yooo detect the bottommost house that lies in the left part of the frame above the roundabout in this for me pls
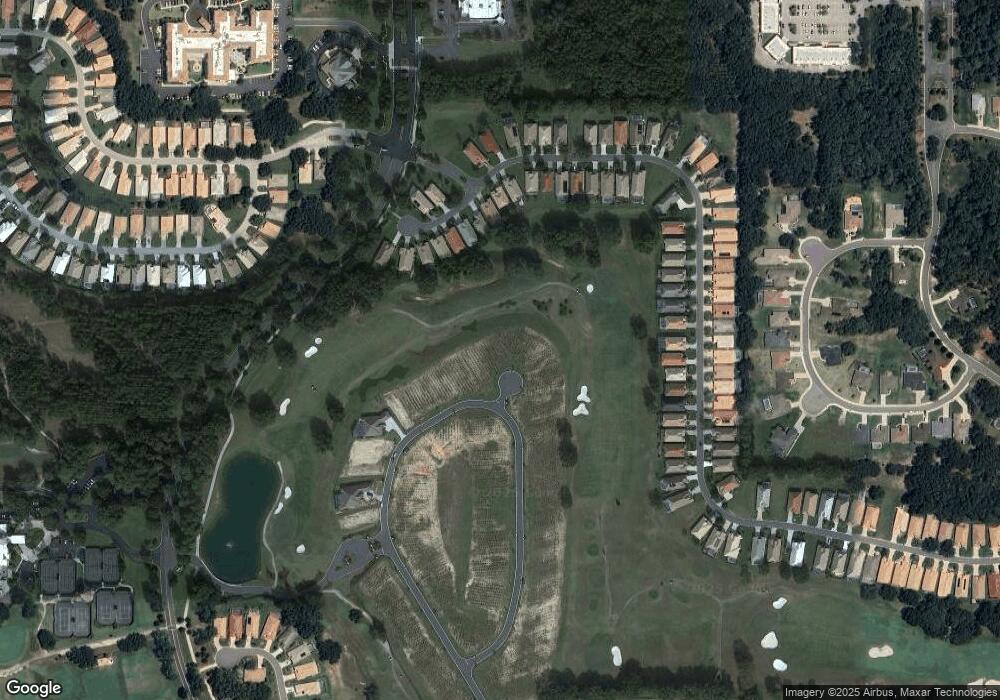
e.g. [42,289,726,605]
[338,479,377,510]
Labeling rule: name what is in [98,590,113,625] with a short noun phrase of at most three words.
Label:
tennis court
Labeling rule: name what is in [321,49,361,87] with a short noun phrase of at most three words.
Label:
building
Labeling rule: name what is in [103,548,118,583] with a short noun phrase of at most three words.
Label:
tennis court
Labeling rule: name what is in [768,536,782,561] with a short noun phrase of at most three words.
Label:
house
